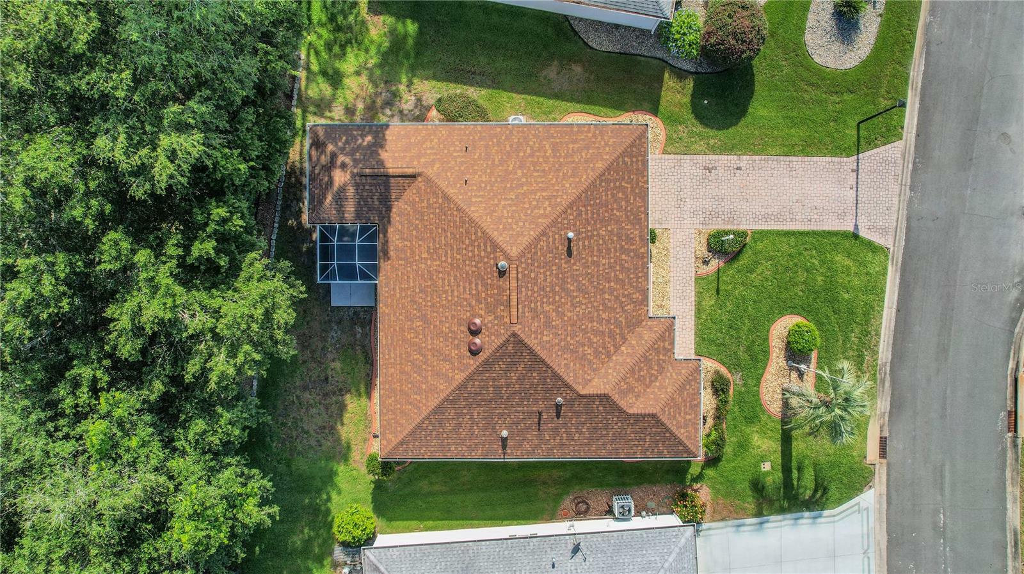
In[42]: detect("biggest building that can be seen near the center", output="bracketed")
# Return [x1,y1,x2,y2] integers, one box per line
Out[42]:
[307,123,703,460]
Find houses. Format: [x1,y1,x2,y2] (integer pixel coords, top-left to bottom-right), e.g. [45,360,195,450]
[307,123,703,460]
[361,516,699,574]
[478,0,676,35]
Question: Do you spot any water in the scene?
No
